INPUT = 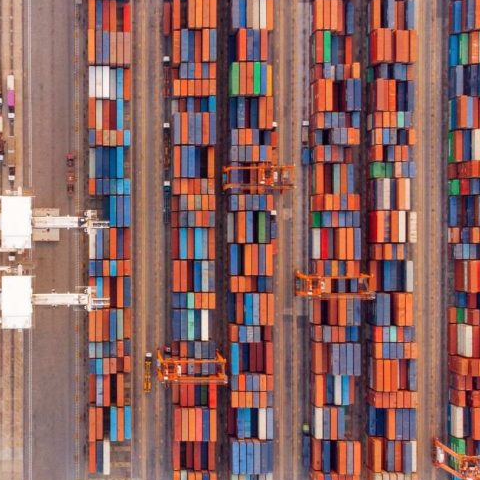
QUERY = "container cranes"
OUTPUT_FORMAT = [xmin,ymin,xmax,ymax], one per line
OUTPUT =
[154,344,232,383]
[218,164,301,199]
[0,184,109,260]
[0,260,109,331]
[292,266,381,300]
[432,436,480,480]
